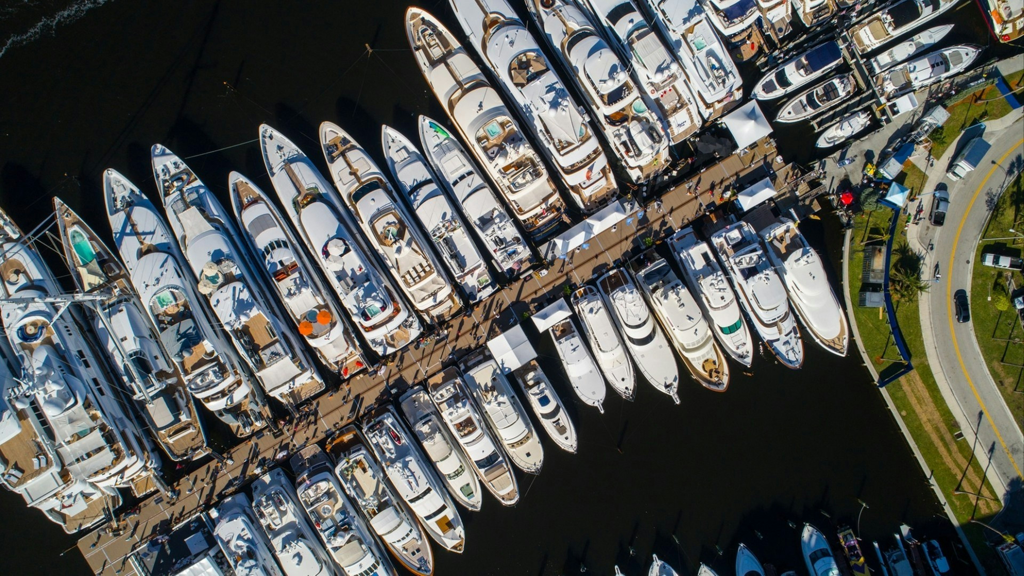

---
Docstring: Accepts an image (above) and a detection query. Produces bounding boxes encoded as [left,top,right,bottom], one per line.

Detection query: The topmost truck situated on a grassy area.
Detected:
[979,253,1024,275]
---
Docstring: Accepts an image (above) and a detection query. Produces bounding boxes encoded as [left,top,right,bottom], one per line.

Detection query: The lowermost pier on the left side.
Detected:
[95,550,147,576]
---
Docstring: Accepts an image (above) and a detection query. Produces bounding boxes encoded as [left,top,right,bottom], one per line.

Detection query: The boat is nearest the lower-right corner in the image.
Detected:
[918,536,951,576]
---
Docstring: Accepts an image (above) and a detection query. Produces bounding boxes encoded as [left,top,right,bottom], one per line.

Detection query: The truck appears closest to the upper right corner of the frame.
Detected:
[948,135,1002,187]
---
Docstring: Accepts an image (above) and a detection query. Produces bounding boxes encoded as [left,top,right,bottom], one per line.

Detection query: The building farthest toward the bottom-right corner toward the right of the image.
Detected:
[853,292,883,307]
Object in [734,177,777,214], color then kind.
white tent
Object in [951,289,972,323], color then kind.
black car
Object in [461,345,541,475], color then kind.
white boat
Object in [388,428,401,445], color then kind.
red boat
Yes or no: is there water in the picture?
Yes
